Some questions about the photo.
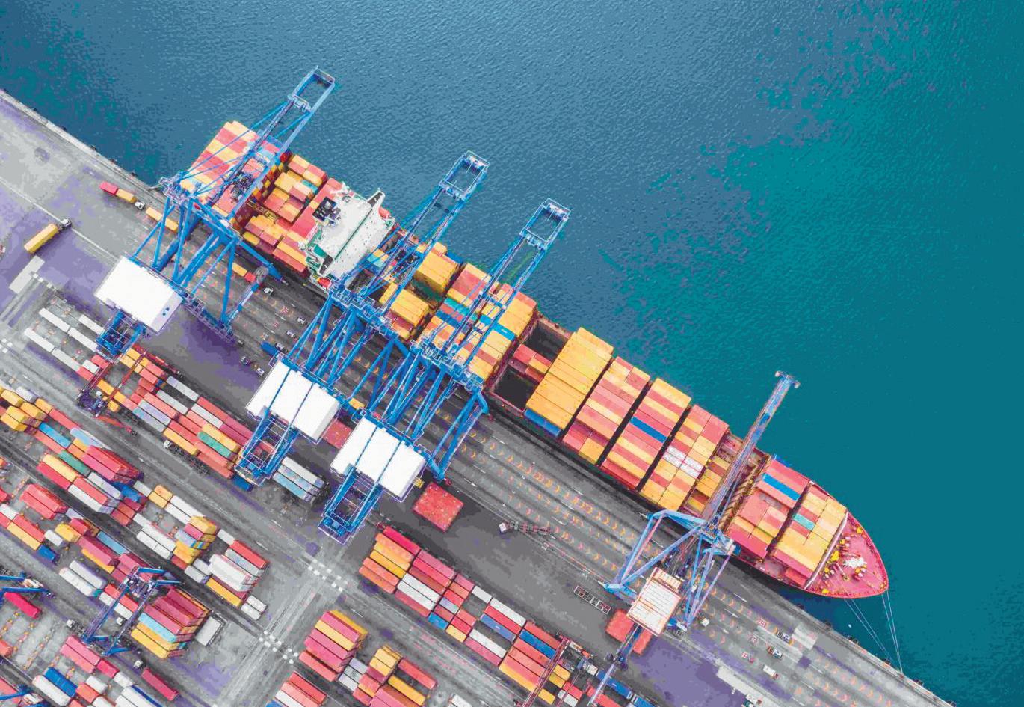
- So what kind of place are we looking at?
port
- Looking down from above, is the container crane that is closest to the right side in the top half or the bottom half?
bottom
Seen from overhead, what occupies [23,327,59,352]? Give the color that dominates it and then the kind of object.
white shipping container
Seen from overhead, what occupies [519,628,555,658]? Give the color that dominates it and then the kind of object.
blue shipping container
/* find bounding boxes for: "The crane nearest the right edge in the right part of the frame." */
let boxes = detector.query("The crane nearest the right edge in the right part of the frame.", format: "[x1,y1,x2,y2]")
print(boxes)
[591,366,806,707]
